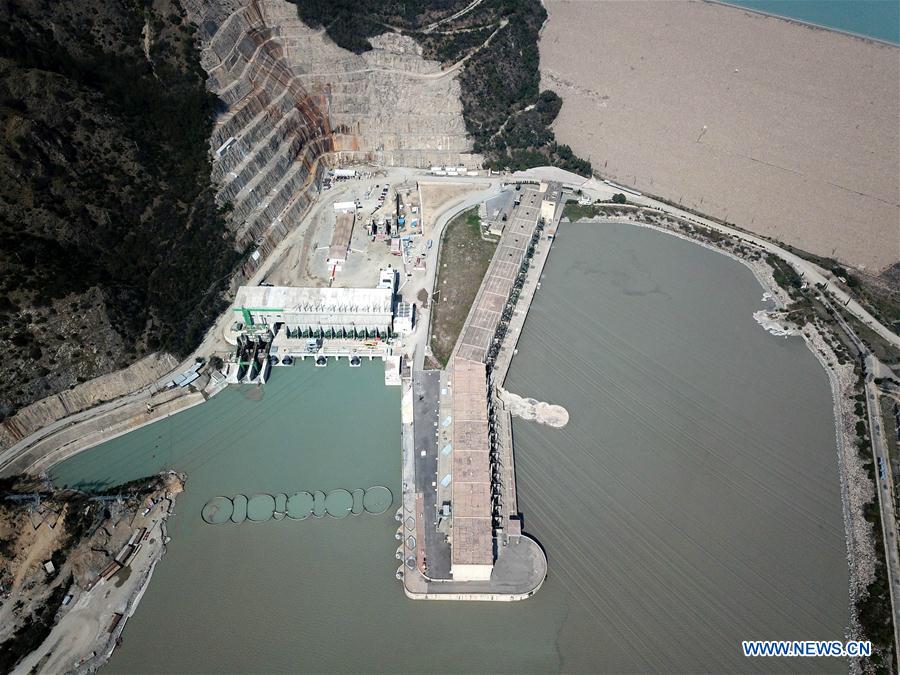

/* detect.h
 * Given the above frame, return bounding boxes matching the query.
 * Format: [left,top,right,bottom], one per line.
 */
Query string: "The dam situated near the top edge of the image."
[540,0,900,265]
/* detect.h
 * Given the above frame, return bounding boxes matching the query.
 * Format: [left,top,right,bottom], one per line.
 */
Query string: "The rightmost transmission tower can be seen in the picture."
[81,501,130,530]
